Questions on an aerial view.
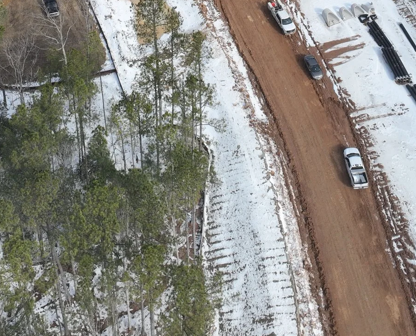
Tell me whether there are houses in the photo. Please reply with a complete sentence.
No, no house can be seen from above.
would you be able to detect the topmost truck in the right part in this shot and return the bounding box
[271,1,296,34]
